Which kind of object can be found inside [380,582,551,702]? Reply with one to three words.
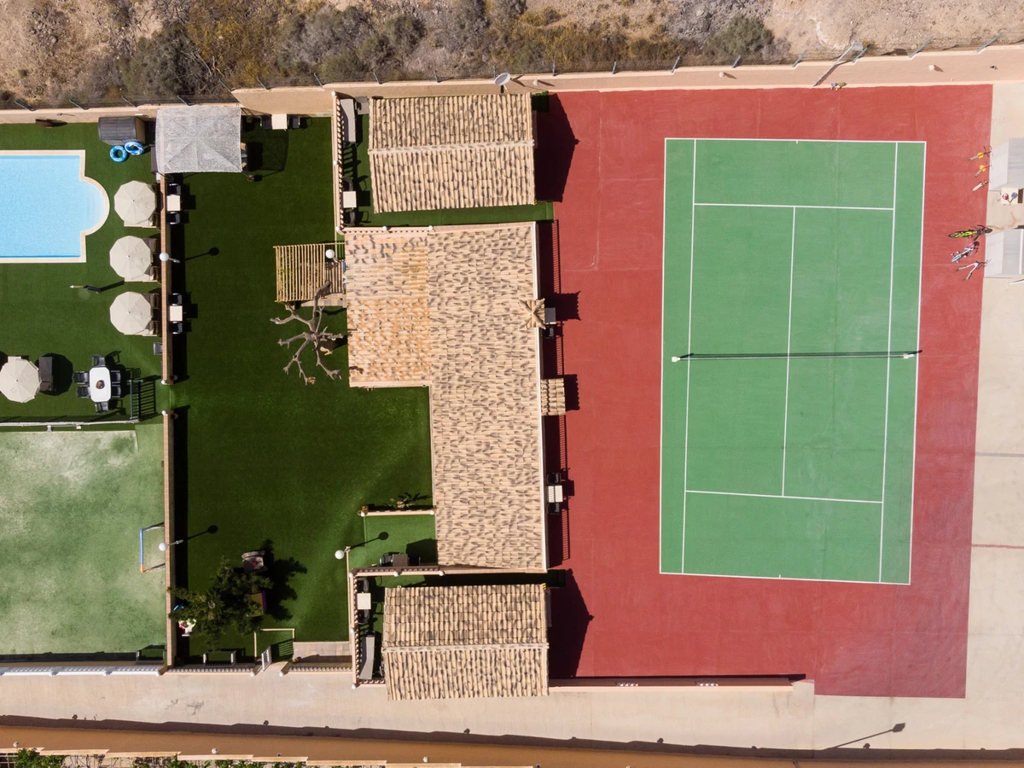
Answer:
building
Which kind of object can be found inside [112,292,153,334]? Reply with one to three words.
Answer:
umbrella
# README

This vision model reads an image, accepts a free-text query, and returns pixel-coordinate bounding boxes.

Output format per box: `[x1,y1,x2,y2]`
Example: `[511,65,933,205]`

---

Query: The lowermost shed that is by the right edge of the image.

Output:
[986,232,1024,277]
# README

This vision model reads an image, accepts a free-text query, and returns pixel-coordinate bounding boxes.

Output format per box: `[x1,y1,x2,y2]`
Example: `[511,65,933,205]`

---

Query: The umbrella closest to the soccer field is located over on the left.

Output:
[0,360,41,400]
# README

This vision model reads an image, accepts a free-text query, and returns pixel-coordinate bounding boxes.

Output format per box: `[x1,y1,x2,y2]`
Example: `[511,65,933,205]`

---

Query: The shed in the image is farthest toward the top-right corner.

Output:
[991,140,1024,188]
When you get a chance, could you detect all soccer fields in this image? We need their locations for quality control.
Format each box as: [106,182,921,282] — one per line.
[0,424,171,669]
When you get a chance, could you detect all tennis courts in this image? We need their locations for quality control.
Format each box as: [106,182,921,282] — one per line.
[512,90,992,699]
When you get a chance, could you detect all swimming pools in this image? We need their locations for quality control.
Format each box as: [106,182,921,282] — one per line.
[0,150,109,263]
